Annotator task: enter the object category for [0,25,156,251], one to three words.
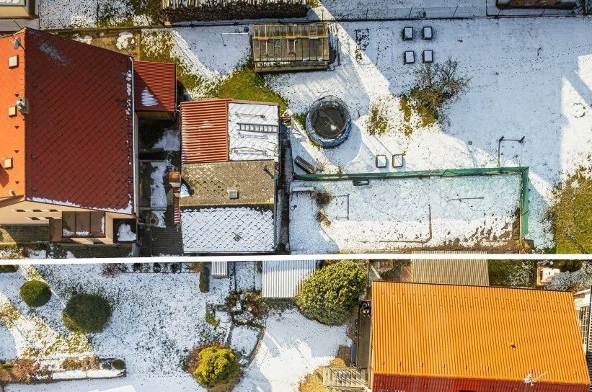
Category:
house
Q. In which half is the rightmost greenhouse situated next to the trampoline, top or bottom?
top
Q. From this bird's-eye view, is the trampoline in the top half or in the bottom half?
top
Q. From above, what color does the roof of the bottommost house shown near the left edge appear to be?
red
